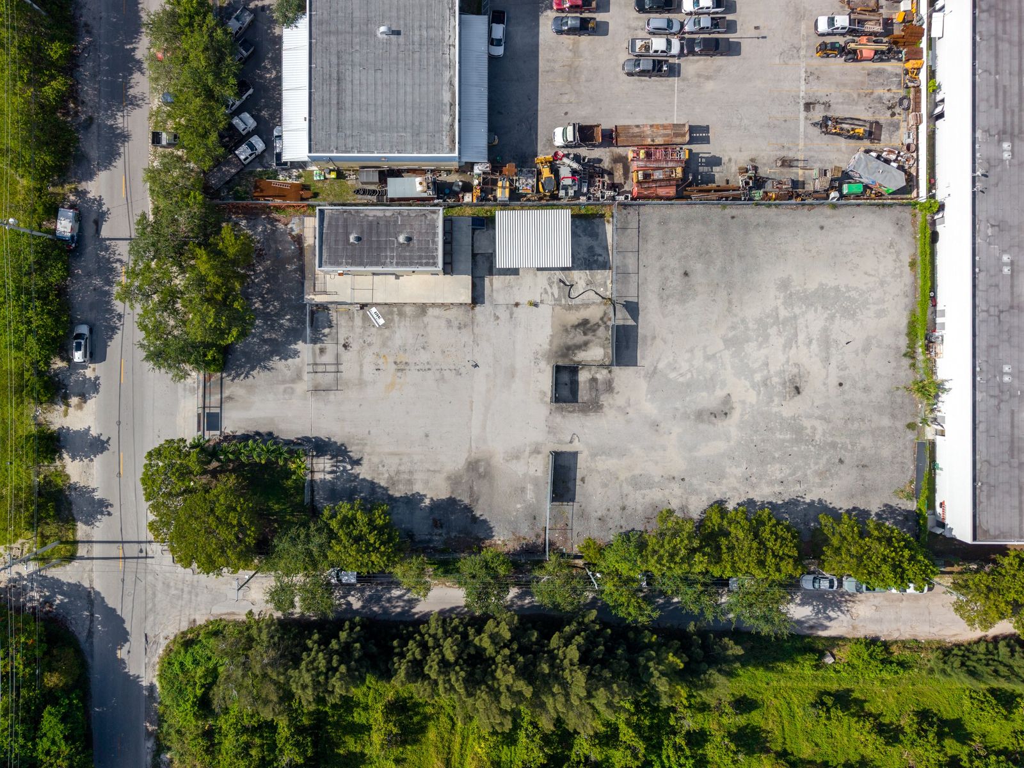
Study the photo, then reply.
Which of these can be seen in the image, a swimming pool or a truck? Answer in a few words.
truck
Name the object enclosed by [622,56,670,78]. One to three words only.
truck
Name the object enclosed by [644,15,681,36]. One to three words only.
car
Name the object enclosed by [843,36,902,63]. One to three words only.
work vehicle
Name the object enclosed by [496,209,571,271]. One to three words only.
shed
